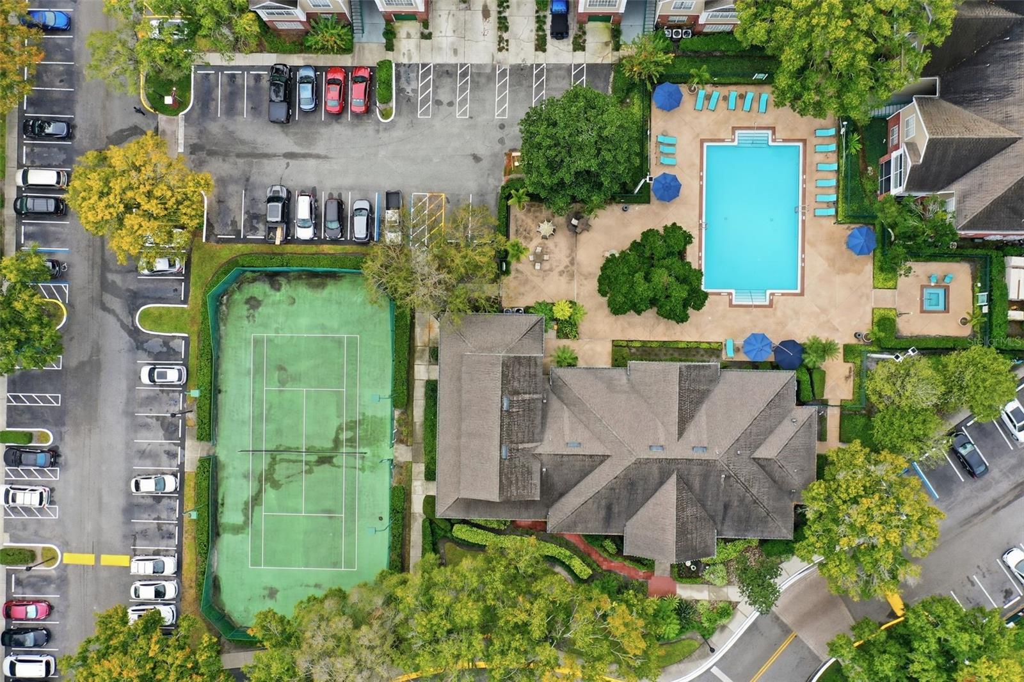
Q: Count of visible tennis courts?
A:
1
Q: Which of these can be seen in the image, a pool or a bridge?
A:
pool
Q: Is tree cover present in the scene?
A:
Yes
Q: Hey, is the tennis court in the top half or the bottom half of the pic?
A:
bottom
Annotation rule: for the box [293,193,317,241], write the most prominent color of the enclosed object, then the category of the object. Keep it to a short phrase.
white car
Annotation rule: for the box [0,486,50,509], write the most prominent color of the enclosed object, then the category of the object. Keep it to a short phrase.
white car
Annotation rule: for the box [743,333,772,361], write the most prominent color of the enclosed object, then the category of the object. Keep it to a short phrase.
blue umbrella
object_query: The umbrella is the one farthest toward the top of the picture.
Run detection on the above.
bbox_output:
[652,81,683,112]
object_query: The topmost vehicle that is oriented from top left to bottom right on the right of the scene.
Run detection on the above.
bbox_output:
[950,431,991,480]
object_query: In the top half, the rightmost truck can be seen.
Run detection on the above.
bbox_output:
[547,0,571,43]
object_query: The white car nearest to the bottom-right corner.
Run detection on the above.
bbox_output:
[1004,547,1024,588]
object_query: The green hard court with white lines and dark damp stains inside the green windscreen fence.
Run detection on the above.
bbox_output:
[214,271,395,631]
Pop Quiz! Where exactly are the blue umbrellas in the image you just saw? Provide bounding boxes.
[846,227,876,255]
[652,81,683,112]
[743,333,772,361]
[773,340,803,369]
[651,173,681,202]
